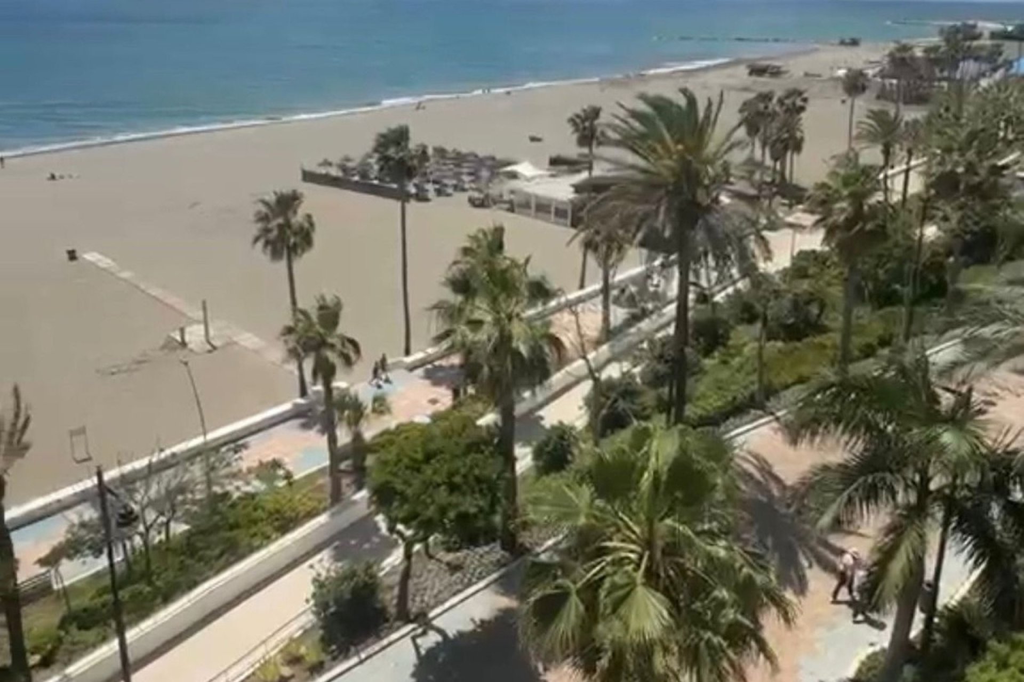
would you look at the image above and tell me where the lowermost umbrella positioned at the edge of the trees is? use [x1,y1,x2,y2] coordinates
[779,211,816,246]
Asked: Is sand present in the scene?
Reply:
Yes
